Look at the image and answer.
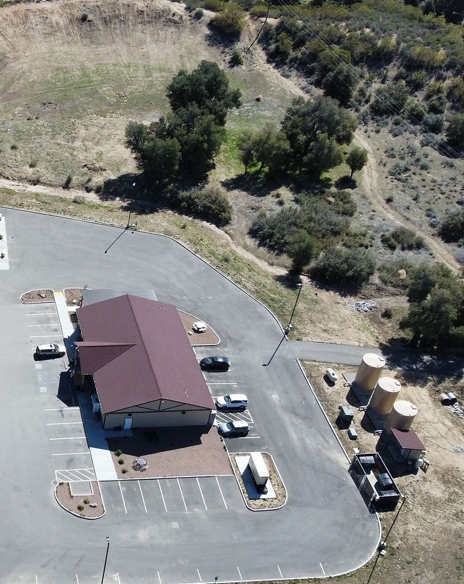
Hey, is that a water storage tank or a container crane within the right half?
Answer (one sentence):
Looking within the right half, you will find a water storage tank.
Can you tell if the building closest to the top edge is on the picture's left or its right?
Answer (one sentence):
The building closest to the top edge appears in the left half of the scene.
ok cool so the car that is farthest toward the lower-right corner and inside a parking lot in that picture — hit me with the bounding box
[219,418,253,434]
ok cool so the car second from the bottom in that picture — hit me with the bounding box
[214,391,249,407]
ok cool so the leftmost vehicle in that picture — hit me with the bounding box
[36,341,67,355]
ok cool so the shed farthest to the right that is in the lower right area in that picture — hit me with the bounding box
[390,433,424,463]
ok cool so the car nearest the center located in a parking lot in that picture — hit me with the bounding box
[198,353,231,368]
